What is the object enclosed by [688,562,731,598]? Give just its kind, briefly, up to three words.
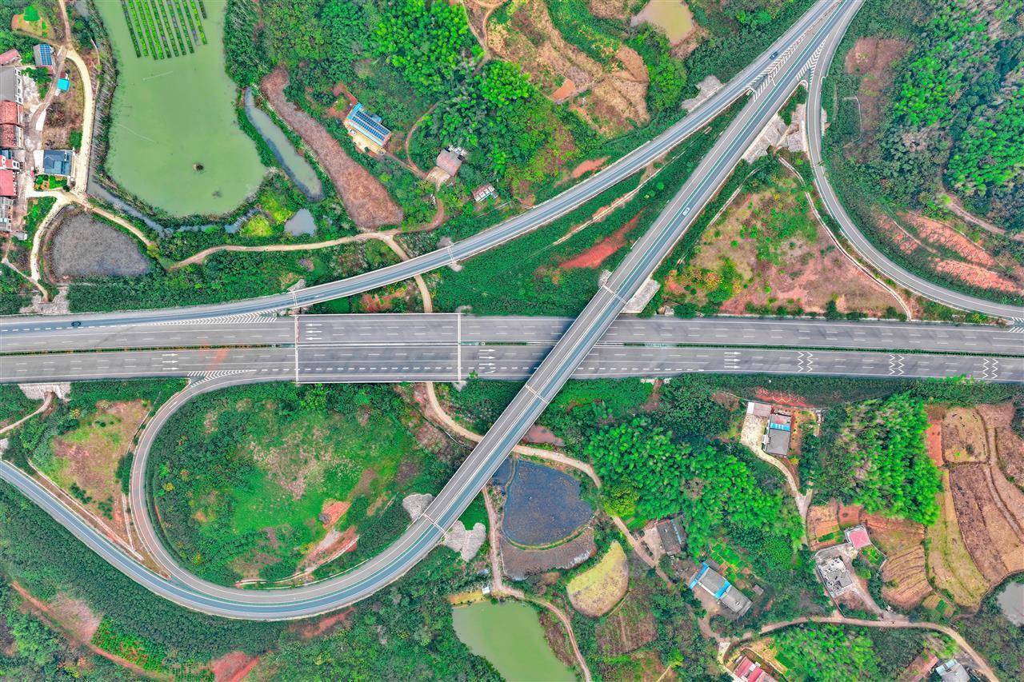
house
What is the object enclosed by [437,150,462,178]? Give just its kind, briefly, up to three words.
house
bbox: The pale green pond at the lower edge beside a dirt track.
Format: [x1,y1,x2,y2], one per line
[451,601,577,682]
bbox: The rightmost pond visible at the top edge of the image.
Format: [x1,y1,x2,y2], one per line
[631,0,696,40]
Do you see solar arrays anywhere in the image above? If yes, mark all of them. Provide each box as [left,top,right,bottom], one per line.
[353,113,383,139]
[357,108,387,133]
[39,43,52,64]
